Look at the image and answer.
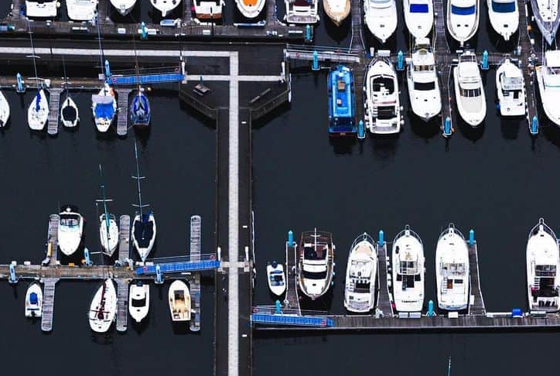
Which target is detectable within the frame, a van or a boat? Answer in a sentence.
The one in the frame is a boat.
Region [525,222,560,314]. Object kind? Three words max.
boat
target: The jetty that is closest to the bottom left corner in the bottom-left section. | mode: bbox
[36,277,62,334]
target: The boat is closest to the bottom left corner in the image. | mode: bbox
[24,282,43,318]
